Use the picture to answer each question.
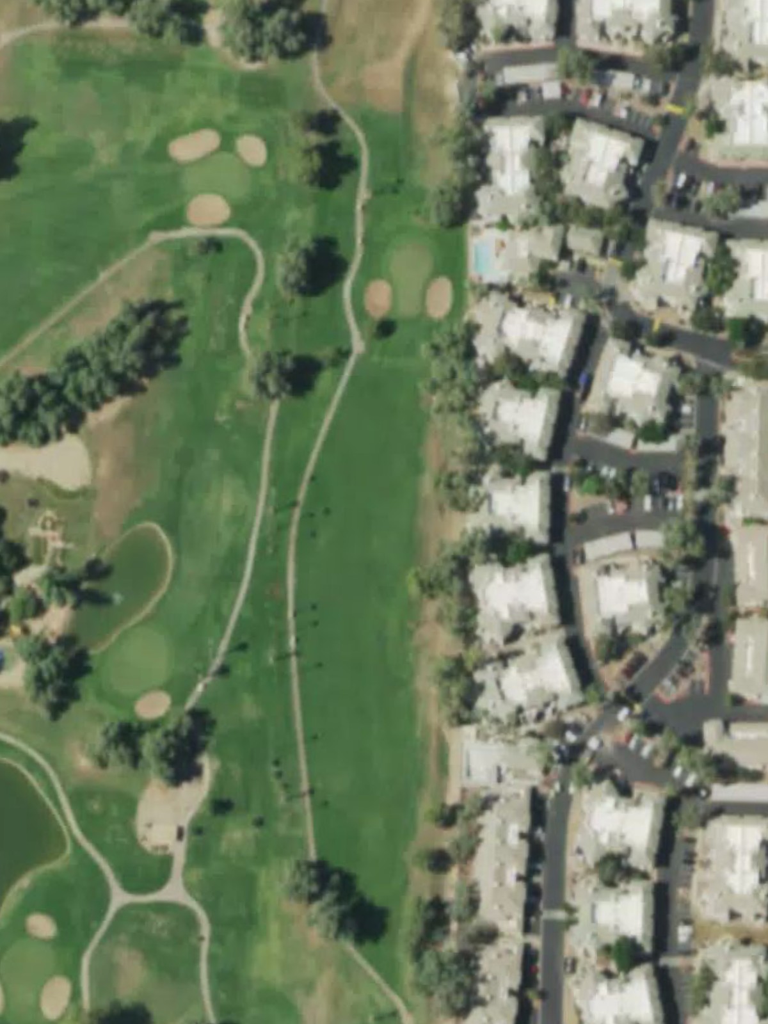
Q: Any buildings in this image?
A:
Yes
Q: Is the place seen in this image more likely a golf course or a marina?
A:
golf course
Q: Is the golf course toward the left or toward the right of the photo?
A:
left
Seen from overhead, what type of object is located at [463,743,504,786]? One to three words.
building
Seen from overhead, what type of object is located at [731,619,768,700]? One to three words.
building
